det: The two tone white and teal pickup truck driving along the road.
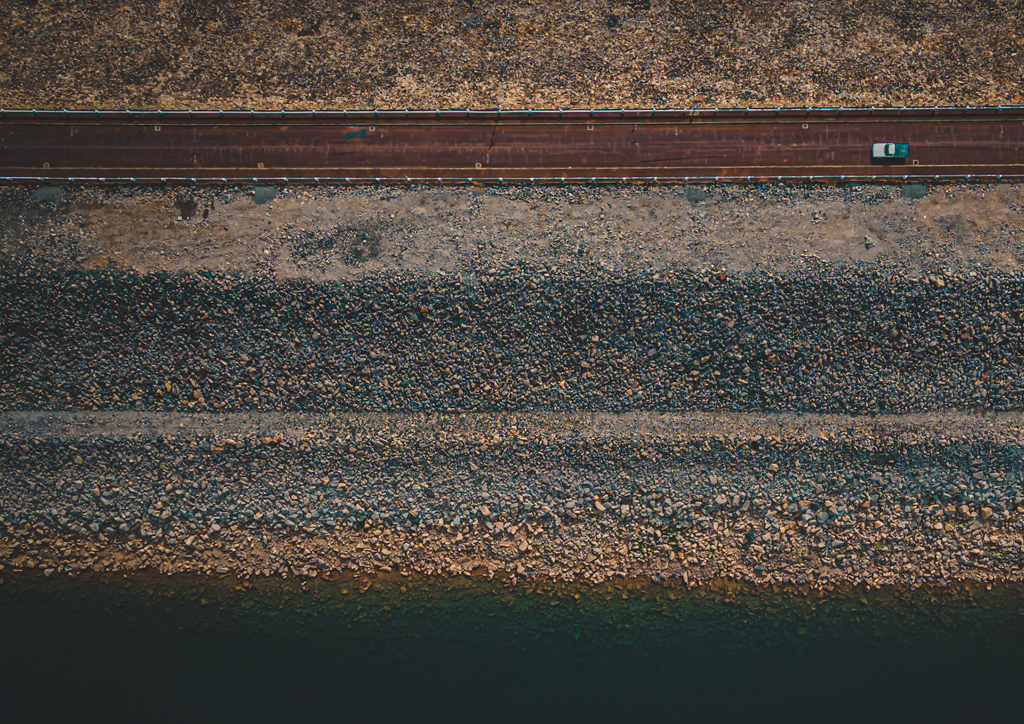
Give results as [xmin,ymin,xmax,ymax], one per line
[873,142,909,159]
